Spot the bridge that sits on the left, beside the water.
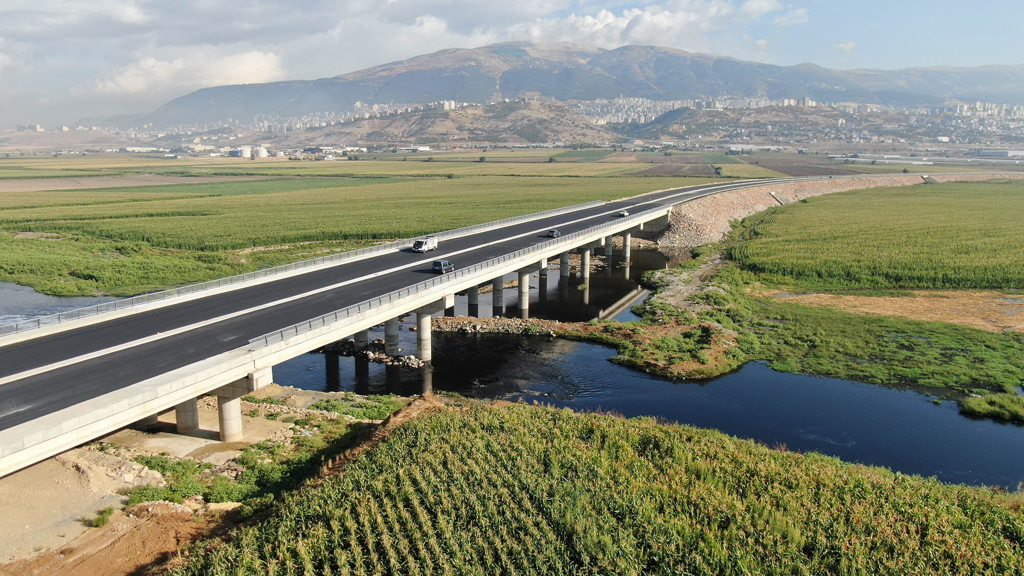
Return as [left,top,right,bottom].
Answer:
[0,200,675,476]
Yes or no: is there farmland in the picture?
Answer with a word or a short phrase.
Yes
